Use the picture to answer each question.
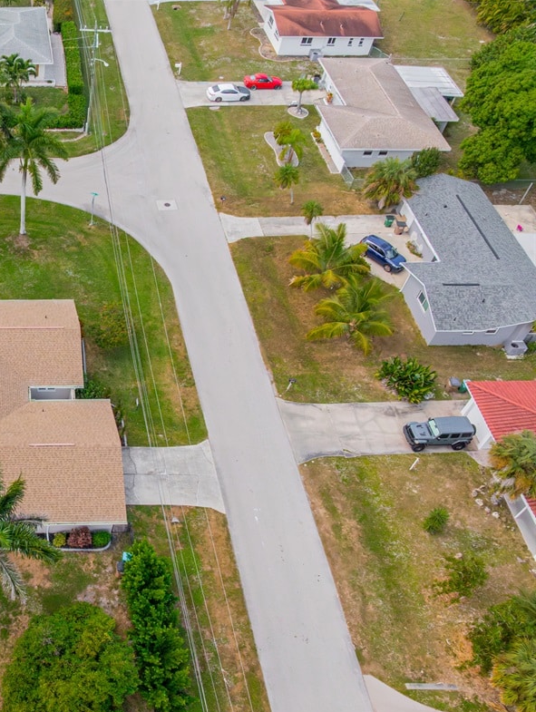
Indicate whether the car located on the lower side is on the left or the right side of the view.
right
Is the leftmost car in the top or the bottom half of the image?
top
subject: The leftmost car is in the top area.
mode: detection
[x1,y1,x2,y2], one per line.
[205,79,254,99]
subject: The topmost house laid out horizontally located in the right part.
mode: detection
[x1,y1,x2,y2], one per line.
[262,0,384,55]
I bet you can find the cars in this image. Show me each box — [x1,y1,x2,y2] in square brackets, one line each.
[242,69,286,87]
[358,233,411,275]
[405,415,482,450]
[205,79,254,99]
